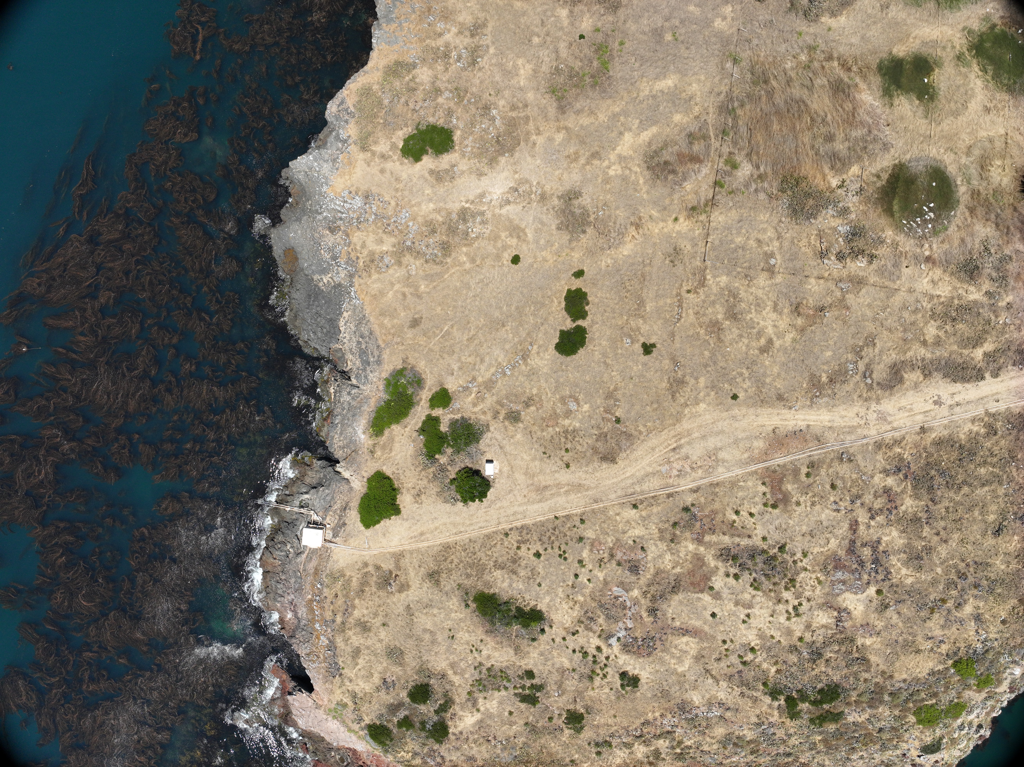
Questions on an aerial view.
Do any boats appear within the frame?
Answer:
No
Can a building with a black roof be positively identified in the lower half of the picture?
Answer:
No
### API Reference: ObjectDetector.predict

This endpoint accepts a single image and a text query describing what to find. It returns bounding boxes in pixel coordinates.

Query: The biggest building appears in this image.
[301,524,325,548]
